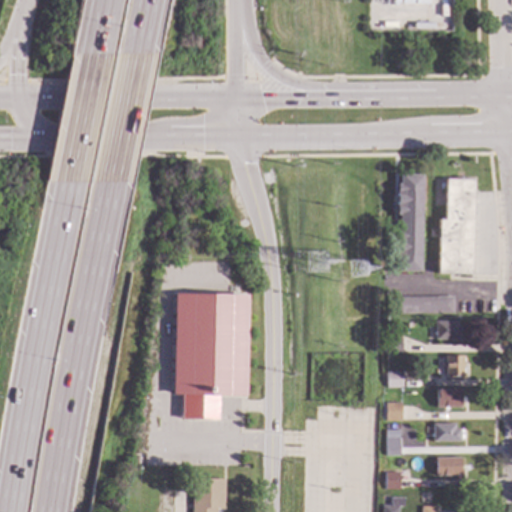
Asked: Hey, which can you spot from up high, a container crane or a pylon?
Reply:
pylon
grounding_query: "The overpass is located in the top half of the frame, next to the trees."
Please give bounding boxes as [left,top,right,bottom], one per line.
[47,54,162,182]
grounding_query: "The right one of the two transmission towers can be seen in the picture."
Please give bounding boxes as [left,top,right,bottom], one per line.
[350,258,386,278]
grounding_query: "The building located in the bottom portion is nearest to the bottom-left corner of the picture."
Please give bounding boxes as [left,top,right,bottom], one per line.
[194,478,225,512]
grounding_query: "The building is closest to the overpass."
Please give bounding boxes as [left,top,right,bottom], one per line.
[175,293,252,419]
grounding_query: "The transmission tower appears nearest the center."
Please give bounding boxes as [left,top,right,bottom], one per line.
[307,250,348,274]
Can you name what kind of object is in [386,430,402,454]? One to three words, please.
building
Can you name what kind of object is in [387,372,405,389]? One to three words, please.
building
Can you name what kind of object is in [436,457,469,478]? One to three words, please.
house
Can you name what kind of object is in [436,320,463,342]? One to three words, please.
house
